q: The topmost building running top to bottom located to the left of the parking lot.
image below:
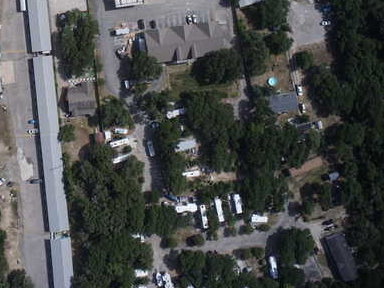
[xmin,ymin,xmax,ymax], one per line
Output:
[27,0,51,52]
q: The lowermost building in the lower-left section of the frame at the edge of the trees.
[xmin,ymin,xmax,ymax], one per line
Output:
[50,234,75,288]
